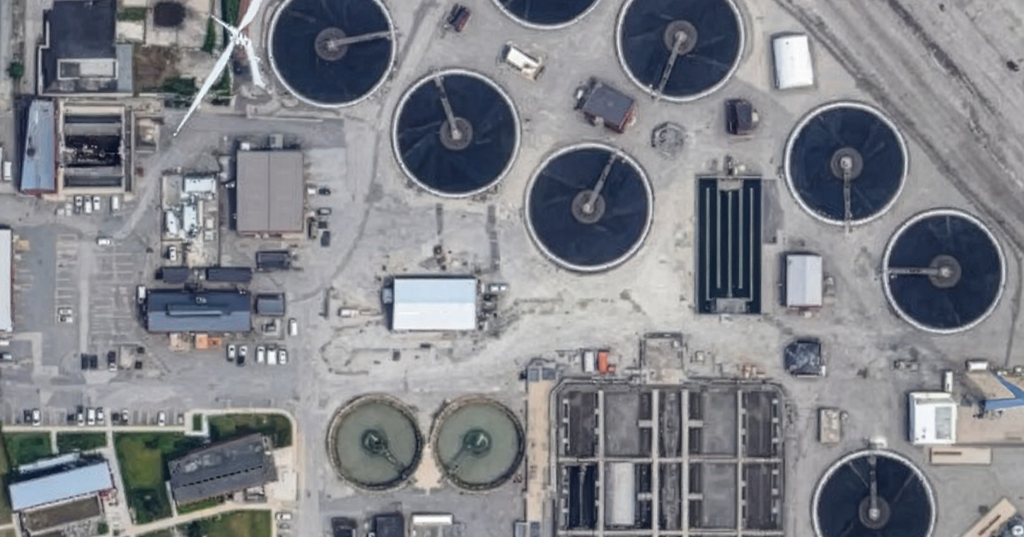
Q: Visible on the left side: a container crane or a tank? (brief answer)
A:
tank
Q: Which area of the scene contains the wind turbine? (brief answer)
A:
top left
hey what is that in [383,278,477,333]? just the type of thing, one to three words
building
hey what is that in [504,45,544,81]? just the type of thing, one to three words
trailer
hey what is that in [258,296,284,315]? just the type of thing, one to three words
shed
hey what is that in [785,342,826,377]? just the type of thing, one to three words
house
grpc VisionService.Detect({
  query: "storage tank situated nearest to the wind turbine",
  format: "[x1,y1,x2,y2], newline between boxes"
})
[266,0,398,108]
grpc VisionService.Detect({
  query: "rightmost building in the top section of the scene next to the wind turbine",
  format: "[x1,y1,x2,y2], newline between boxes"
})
[236,135,304,239]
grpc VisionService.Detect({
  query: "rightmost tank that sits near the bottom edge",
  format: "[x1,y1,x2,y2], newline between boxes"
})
[809,445,939,537]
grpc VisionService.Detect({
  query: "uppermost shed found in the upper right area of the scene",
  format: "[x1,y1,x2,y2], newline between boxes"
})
[773,34,813,90]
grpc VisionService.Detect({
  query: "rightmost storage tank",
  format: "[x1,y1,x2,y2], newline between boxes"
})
[880,208,1007,334]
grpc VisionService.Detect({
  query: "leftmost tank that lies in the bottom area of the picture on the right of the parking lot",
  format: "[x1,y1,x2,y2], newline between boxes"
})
[326,393,424,490]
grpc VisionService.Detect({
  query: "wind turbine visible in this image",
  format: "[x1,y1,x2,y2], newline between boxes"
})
[164,0,269,137]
